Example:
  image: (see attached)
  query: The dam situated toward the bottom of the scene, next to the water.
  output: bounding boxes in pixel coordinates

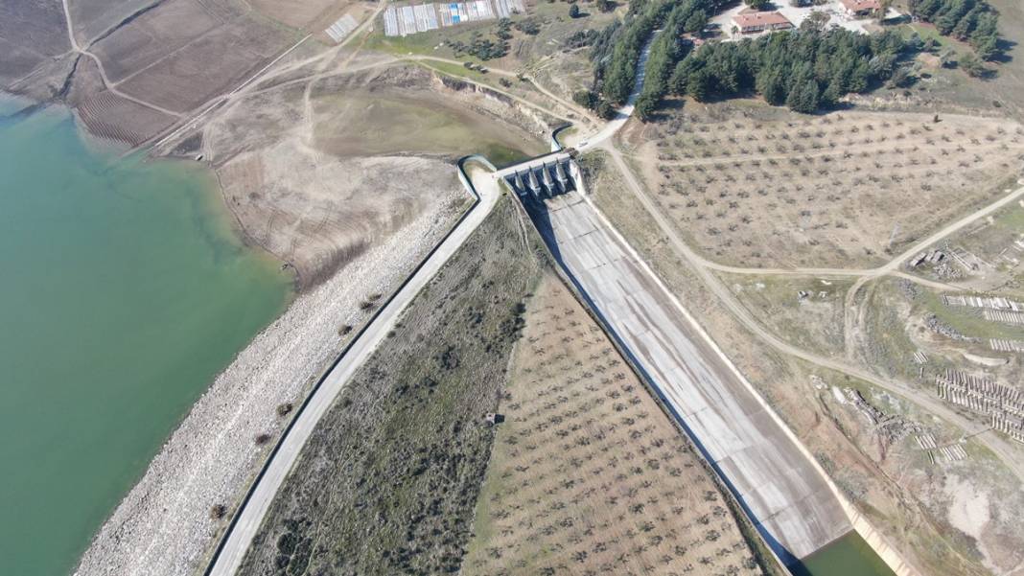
[78,155,564,576]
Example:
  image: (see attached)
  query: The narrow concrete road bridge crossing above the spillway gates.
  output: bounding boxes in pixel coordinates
[497,148,572,179]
